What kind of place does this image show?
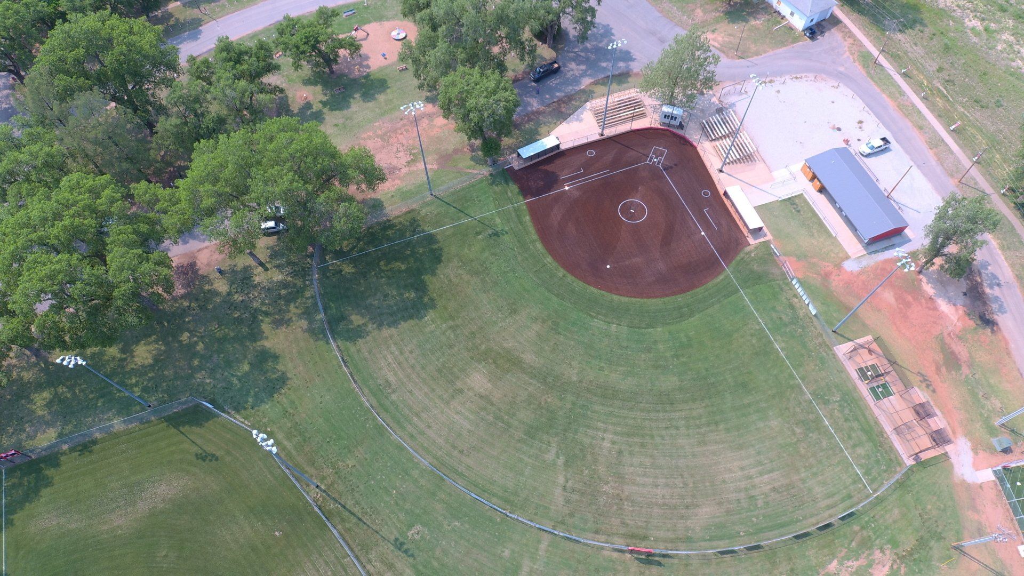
sports ground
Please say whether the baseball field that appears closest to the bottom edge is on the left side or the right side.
left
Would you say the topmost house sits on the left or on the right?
right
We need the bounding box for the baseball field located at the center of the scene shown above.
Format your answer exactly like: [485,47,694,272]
[315,129,909,553]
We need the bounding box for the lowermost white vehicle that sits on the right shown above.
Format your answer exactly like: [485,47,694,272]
[859,138,893,157]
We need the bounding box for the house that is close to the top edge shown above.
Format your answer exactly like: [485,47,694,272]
[766,0,842,31]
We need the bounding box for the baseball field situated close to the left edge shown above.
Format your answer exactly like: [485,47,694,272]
[0,401,362,576]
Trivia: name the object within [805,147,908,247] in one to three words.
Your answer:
building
